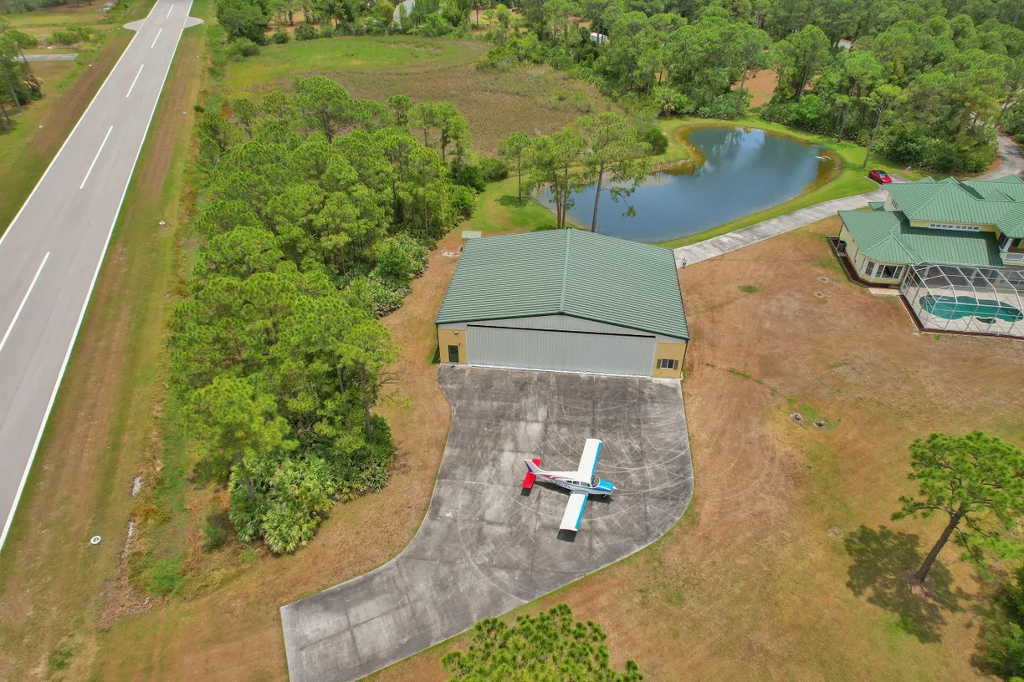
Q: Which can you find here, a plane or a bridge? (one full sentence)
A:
There is a plane in the scene.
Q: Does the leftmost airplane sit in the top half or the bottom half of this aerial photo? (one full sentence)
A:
It is in the bottom half that the leftmost airplane appears.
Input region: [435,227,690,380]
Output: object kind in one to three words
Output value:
hangar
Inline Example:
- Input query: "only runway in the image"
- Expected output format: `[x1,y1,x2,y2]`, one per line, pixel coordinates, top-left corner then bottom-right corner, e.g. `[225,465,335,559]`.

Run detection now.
[0,0,192,565]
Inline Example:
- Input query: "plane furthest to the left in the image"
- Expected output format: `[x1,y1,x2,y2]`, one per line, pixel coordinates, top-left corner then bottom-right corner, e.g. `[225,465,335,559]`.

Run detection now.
[524,438,617,532]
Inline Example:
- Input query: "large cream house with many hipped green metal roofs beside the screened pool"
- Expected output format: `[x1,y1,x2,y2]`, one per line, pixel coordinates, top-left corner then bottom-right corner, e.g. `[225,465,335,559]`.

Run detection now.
[834,162,1024,291]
